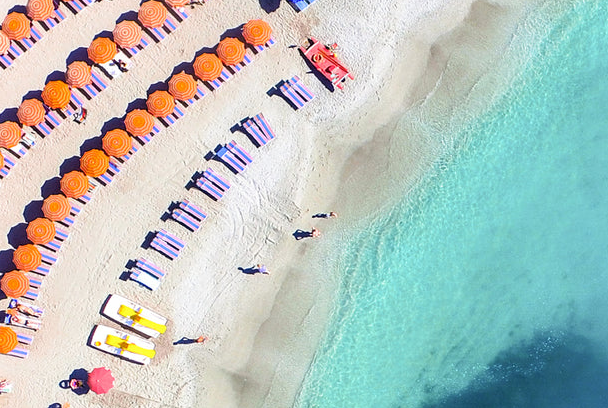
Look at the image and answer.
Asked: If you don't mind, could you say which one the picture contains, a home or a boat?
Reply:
boat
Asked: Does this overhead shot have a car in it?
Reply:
No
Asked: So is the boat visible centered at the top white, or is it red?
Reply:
red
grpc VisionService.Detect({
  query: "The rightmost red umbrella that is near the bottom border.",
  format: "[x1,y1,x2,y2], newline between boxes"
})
[85,366,113,394]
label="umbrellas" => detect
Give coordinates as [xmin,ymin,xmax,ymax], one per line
[0,324,19,353]
[113,20,142,50]
[65,60,96,89]
[88,36,119,65]
[140,0,169,30]
[41,195,70,225]
[26,0,55,21]
[25,215,54,245]
[85,366,113,394]
[15,99,45,129]
[216,37,247,67]
[0,120,24,150]
[12,243,40,272]
[59,169,89,197]
[125,106,154,136]
[0,11,29,40]
[167,72,198,102]
[192,53,221,82]
[0,271,29,301]
[81,149,111,180]
[102,127,132,156]
[41,80,71,111]
[162,0,188,9]
[145,88,175,118]
[243,18,272,48]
